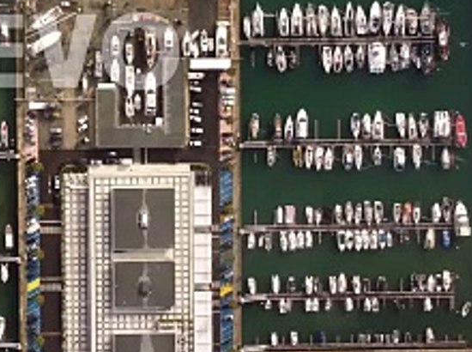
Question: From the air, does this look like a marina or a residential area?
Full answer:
The picture captures a marina.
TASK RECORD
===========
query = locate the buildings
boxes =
[62,160,212,352]
[94,56,189,147]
